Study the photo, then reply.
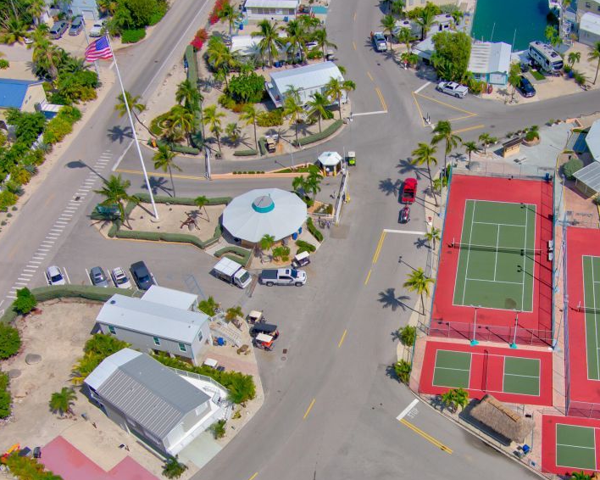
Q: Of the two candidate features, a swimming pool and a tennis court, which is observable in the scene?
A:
tennis court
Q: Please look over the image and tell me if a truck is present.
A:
Yes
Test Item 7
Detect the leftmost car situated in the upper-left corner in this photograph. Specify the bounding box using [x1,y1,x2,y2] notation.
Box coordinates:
[19,34,38,48]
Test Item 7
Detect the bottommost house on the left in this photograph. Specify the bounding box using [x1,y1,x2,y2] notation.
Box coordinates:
[84,346,245,464]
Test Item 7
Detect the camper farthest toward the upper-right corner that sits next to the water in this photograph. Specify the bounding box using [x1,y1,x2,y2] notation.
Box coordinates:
[526,42,568,81]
